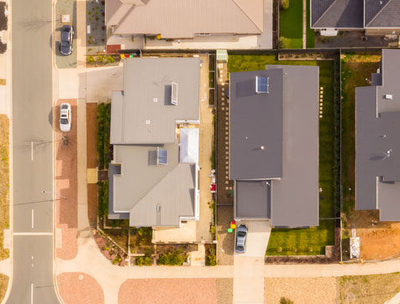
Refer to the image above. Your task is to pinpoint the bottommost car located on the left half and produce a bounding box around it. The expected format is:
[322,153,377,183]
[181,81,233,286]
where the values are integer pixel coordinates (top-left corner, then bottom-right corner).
[58,103,72,132]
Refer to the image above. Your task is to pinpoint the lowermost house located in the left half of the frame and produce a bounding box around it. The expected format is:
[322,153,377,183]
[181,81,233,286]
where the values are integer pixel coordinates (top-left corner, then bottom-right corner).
[109,58,202,228]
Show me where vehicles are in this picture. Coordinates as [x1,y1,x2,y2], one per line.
[58,103,72,132]
[60,24,74,55]
[233,225,247,254]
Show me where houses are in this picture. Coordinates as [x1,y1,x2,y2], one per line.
[356,49,400,224]
[109,58,202,228]
[311,0,400,33]
[106,0,263,42]
[229,66,319,229]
